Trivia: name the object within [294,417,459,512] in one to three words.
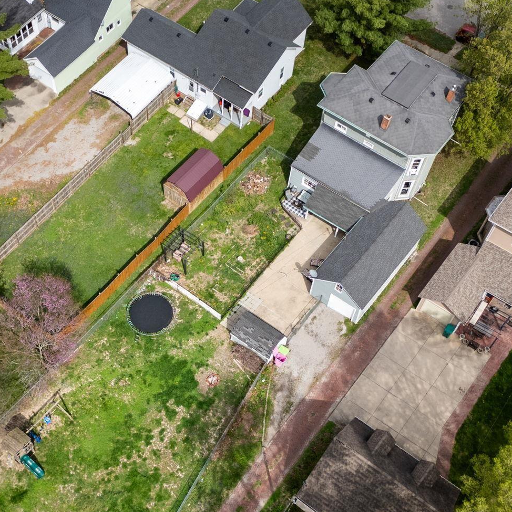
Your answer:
building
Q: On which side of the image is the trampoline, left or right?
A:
left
